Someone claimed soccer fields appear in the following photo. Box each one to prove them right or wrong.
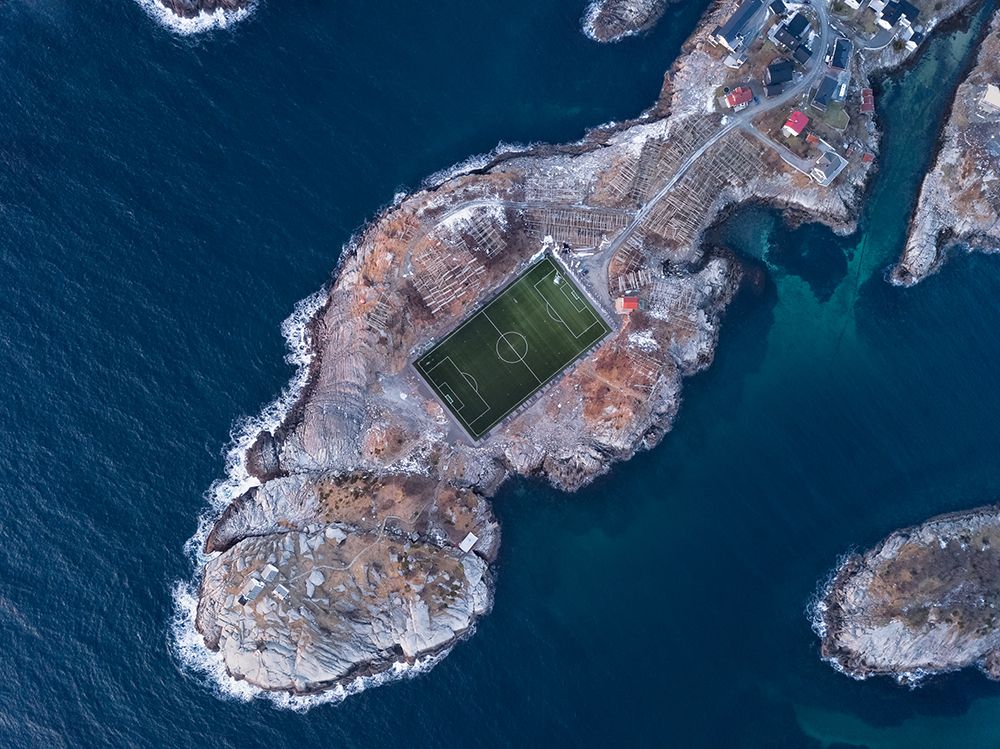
[409,248,619,447]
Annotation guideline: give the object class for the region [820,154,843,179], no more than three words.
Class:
house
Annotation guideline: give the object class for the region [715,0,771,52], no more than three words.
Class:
building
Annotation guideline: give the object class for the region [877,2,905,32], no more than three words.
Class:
house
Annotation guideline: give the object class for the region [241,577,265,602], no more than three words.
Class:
shed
